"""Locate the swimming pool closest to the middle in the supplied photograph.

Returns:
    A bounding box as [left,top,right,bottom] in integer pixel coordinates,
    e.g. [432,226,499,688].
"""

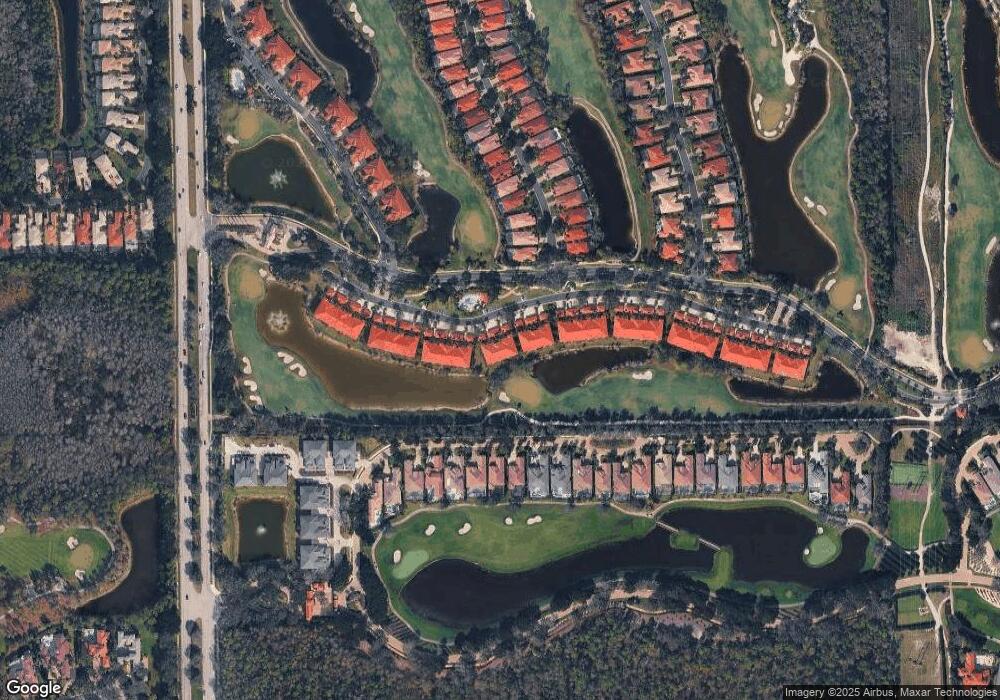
[456,291,479,309]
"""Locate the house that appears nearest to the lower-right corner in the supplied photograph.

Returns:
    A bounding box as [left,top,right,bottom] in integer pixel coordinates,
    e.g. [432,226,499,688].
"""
[958,653,993,692]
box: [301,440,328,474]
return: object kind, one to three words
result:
building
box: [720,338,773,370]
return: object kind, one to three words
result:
house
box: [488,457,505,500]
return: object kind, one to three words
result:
house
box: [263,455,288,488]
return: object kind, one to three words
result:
building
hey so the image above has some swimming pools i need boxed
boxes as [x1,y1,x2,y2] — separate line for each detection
[456,291,479,309]
[230,69,244,92]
